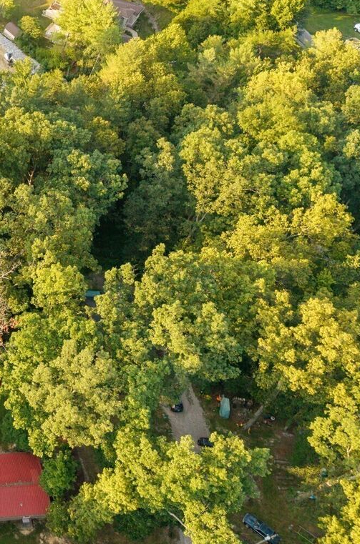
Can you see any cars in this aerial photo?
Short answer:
Yes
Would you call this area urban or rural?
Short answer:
rural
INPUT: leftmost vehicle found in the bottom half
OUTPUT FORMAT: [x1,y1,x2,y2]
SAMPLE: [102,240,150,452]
[165,398,191,417]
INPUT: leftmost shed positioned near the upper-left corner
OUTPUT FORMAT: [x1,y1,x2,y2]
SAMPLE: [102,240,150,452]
[4,25,27,45]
